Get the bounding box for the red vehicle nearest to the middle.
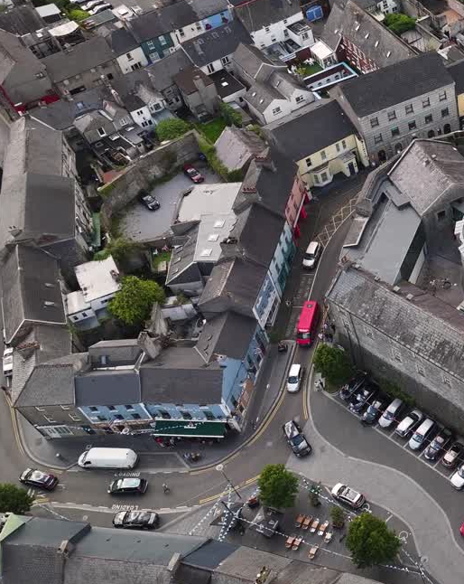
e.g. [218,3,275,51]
[294,298,323,351]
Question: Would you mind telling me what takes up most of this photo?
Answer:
buildings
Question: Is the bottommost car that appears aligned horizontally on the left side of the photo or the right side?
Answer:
left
